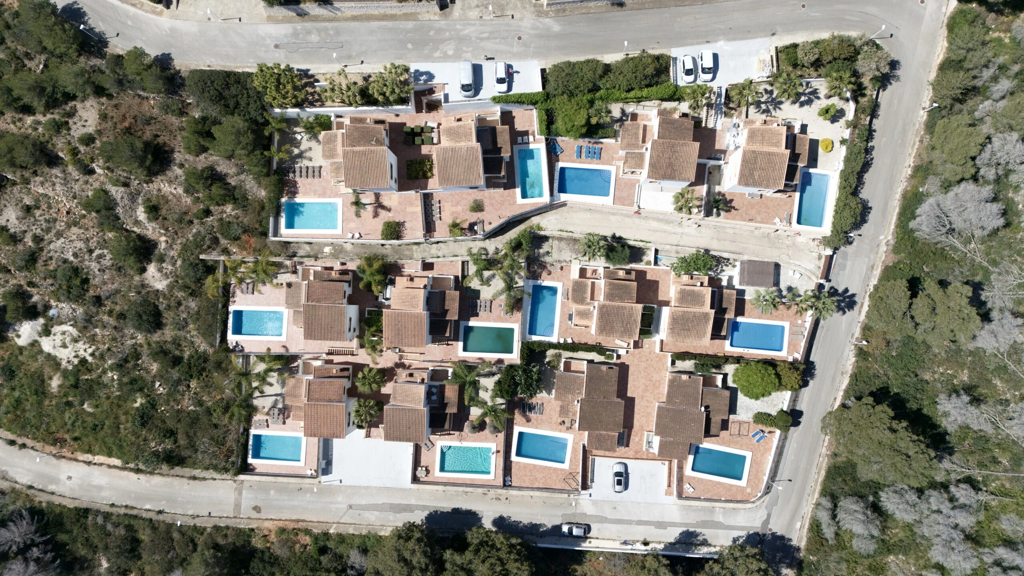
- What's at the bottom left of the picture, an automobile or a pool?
pool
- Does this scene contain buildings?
Yes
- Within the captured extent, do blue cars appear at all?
No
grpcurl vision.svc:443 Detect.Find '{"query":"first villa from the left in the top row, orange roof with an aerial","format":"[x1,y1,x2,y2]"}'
[321,114,396,194]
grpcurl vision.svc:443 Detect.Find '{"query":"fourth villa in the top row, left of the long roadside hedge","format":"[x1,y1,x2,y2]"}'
[723,117,809,195]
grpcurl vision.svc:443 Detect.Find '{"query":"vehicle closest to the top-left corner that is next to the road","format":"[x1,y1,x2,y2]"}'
[459,60,475,100]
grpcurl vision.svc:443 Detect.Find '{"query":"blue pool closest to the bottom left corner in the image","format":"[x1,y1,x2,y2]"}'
[248,430,306,466]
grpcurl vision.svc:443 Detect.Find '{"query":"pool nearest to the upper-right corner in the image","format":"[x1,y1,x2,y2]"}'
[792,168,837,231]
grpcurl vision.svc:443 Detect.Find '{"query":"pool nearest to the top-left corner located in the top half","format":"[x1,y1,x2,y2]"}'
[281,198,342,234]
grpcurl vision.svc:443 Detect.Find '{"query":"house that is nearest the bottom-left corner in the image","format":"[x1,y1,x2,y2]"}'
[284,358,357,439]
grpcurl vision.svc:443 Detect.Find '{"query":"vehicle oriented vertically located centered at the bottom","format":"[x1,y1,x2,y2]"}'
[612,462,626,493]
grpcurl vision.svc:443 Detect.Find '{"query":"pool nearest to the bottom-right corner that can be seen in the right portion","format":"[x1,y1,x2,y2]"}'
[686,443,753,487]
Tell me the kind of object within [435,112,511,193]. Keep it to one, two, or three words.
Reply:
house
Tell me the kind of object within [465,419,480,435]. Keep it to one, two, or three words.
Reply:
umbrella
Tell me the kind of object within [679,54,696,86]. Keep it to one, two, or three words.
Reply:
car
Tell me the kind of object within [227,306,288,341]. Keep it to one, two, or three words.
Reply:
swimming pool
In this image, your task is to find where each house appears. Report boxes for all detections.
[723,117,809,195]
[618,107,700,188]
[657,273,736,346]
[285,267,358,341]
[321,114,396,194]
[650,372,730,460]
[382,276,459,348]
[284,358,357,439]
[570,266,644,340]
[384,365,458,444]
[554,356,625,452]
[435,112,511,193]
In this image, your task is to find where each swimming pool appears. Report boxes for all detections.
[686,443,753,487]
[522,280,563,342]
[248,430,306,466]
[513,144,548,204]
[725,318,790,356]
[458,321,519,358]
[511,426,574,469]
[435,441,496,480]
[281,198,342,234]
[792,168,837,231]
[553,162,616,204]
[227,306,288,341]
